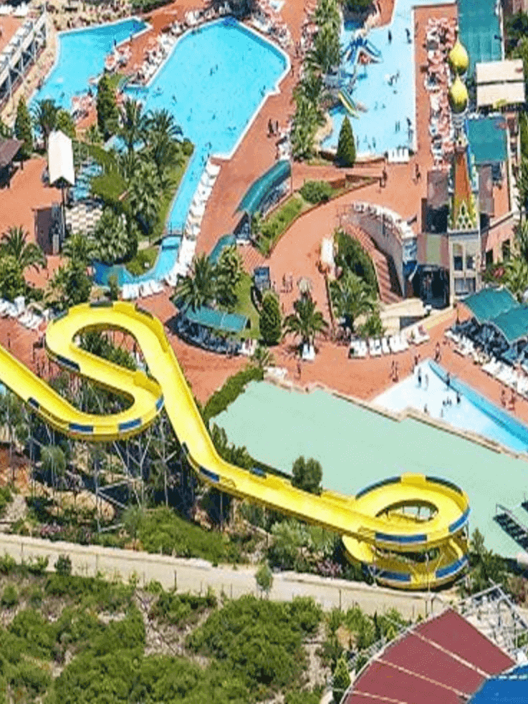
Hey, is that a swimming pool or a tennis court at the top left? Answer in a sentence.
It is a swimming pool that can be seen at the top left.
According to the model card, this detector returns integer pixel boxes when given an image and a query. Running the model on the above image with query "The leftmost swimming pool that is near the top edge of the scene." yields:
[30,18,150,113]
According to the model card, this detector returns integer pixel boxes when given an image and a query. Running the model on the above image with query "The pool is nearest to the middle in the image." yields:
[91,240,181,291]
